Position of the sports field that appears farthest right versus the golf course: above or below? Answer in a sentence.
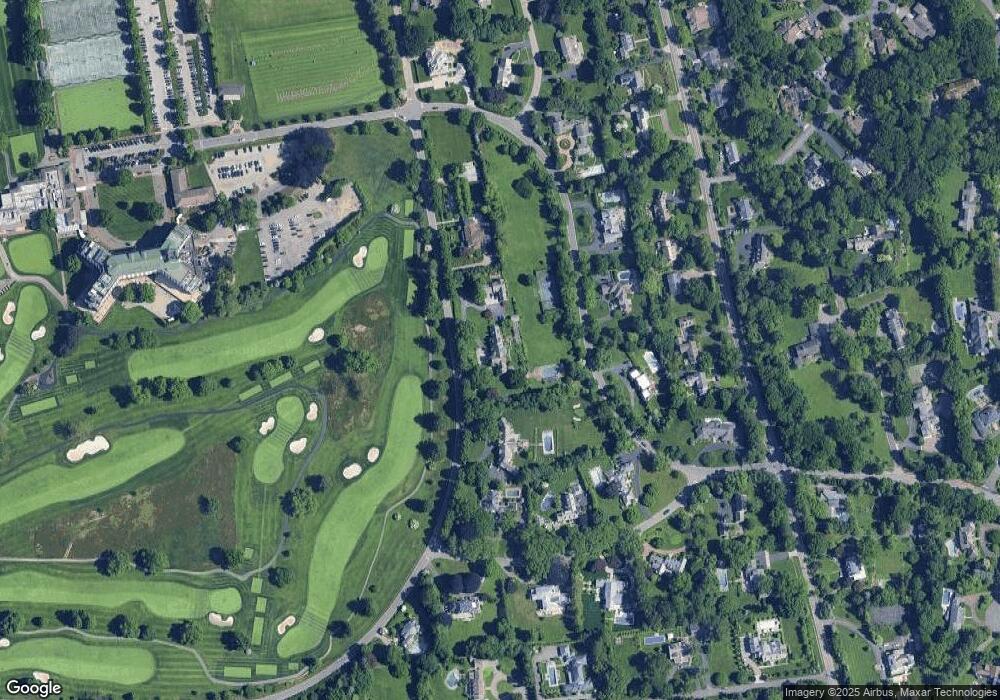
Within the scene, the sports field that appears farthest right can be found above the golf course.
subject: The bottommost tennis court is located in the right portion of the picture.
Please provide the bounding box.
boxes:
[870,604,904,624]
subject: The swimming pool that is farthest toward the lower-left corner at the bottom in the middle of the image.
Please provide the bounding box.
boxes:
[445,669,460,689]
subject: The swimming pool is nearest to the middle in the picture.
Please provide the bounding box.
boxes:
[541,430,555,454]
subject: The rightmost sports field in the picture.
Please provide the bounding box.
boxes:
[242,18,386,120]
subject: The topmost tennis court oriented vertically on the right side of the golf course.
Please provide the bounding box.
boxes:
[539,270,555,308]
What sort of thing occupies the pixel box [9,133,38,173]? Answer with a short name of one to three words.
sports field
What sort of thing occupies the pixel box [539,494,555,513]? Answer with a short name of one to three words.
swimming pool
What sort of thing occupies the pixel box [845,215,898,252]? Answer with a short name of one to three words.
house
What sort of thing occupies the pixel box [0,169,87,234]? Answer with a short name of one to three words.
building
